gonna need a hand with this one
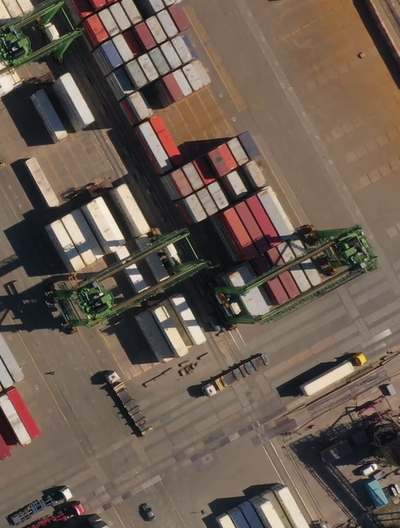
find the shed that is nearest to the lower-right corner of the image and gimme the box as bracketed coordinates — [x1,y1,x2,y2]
[363,478,389,506]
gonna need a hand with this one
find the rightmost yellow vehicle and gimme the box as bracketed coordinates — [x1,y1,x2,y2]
[350,352,373,370]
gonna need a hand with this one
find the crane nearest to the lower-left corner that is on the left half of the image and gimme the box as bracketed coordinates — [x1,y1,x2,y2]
[48,227,205,336]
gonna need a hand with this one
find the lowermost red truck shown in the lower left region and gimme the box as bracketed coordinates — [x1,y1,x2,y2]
[28,502,90,528]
